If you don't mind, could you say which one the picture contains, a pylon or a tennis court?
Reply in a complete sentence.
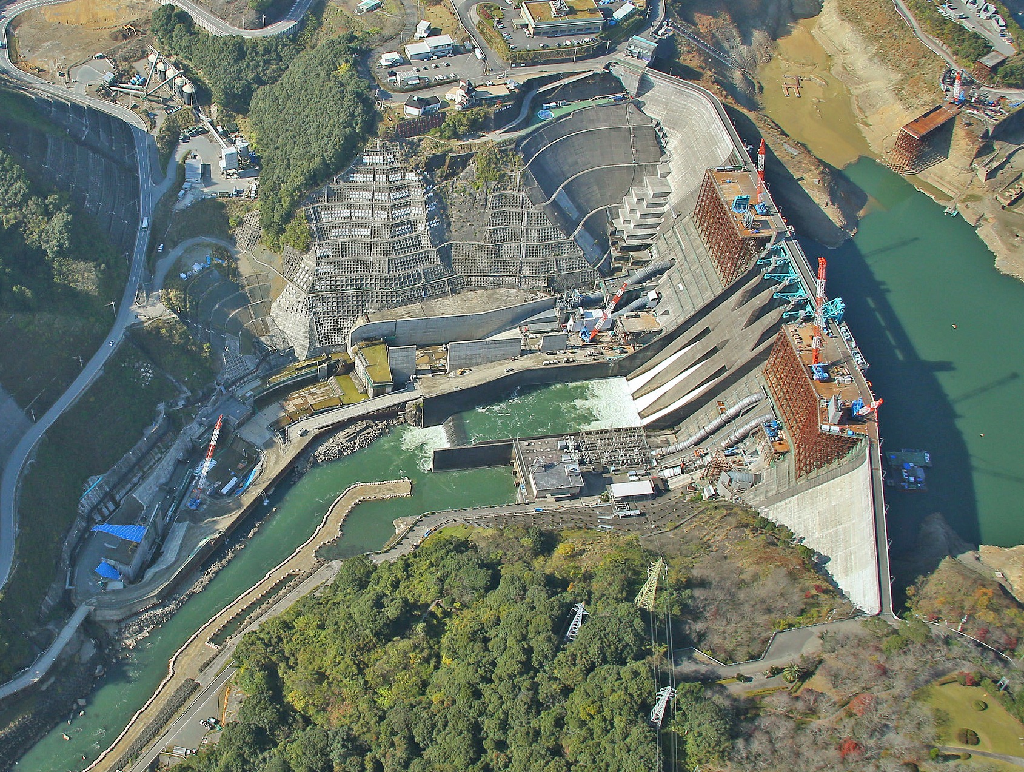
There is a pylon in the scene.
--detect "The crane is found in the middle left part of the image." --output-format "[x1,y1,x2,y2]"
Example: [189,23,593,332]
[183,416,223,512]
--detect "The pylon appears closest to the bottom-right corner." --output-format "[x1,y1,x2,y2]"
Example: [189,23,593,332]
[649,683,682,728]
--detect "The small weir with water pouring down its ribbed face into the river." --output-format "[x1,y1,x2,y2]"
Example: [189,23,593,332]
[441,411,467,445]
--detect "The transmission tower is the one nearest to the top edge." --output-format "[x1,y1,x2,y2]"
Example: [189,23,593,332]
[637,558,672,615]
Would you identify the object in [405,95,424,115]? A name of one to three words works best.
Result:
house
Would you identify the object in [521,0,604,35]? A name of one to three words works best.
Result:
building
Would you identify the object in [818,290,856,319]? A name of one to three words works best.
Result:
container crane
